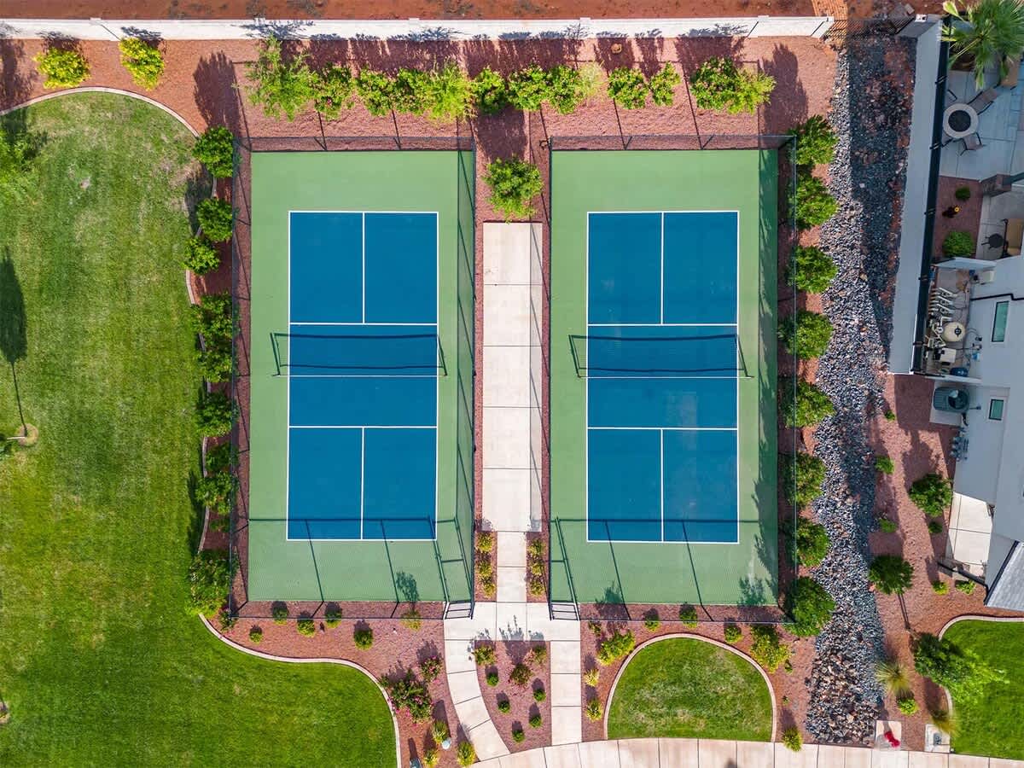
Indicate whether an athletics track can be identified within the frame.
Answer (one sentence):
No, no athletics track is visible in the scene.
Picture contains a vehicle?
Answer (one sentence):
No, the frame has no vehicle in it.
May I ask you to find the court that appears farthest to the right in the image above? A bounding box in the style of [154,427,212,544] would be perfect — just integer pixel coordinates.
[550,150,778,606]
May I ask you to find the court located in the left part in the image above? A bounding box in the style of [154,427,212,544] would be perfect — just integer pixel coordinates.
[248,151,474,603]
